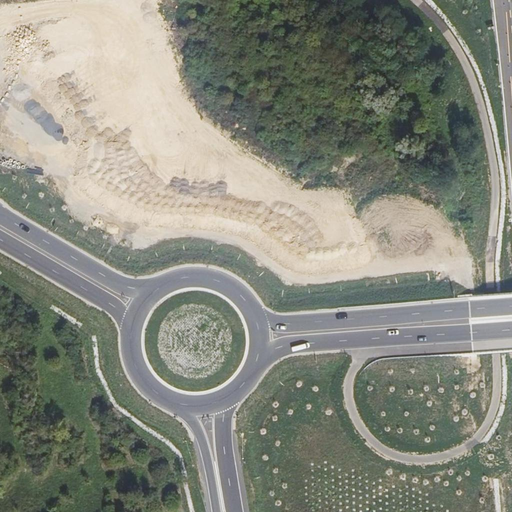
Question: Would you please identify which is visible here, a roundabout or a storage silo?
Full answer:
Of the two, only a roundabout appears.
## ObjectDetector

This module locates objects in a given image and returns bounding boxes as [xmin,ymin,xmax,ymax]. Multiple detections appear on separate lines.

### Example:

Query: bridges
[458,290,512,355]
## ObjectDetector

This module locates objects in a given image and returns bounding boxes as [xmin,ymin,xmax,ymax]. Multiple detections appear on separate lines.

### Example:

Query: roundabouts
[110,264,280,424]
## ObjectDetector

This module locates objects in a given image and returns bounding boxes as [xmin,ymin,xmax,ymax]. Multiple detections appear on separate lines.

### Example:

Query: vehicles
[291,344,310,352]
[276,324,286,330]
[388,330,399,336]
[418,336,428,341]
[19,223,30,232]
[336,313,348,319]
